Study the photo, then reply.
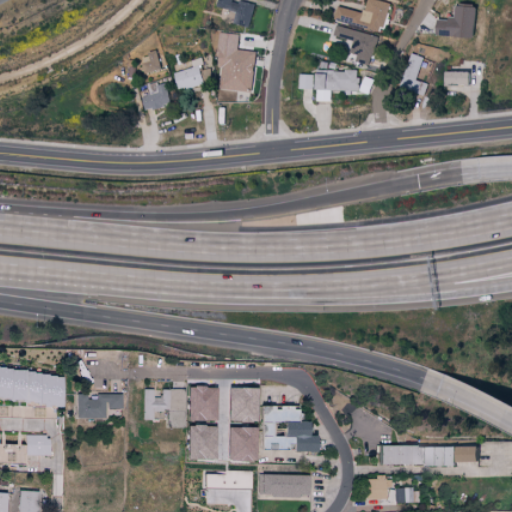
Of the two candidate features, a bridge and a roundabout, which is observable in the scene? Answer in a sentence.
The one in the frame is a bridge.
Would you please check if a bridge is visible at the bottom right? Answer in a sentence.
Yes, there is a bridge at the bottom right.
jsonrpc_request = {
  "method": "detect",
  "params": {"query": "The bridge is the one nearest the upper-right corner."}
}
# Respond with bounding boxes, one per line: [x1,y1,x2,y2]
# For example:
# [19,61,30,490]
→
[460,155,512,185]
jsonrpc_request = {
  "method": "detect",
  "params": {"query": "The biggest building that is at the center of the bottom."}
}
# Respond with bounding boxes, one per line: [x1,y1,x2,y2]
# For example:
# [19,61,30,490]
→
[264,406,320,452]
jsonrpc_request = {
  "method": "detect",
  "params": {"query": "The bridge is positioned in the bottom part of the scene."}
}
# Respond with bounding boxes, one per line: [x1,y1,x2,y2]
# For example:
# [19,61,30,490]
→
[422,370,512,435]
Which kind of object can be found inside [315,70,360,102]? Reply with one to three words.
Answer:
house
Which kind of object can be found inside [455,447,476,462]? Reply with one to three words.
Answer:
shed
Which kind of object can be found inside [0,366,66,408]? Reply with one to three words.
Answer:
building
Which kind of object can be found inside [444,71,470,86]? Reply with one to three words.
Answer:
building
